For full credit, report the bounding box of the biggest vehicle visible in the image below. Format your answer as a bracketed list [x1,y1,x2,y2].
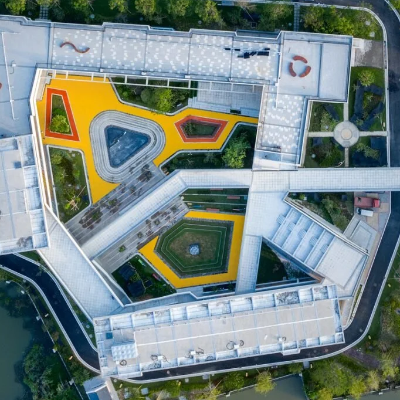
[354,197,381,210]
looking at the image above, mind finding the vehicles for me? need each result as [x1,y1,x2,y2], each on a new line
[354,197,381,210]
[357,209,374,218]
